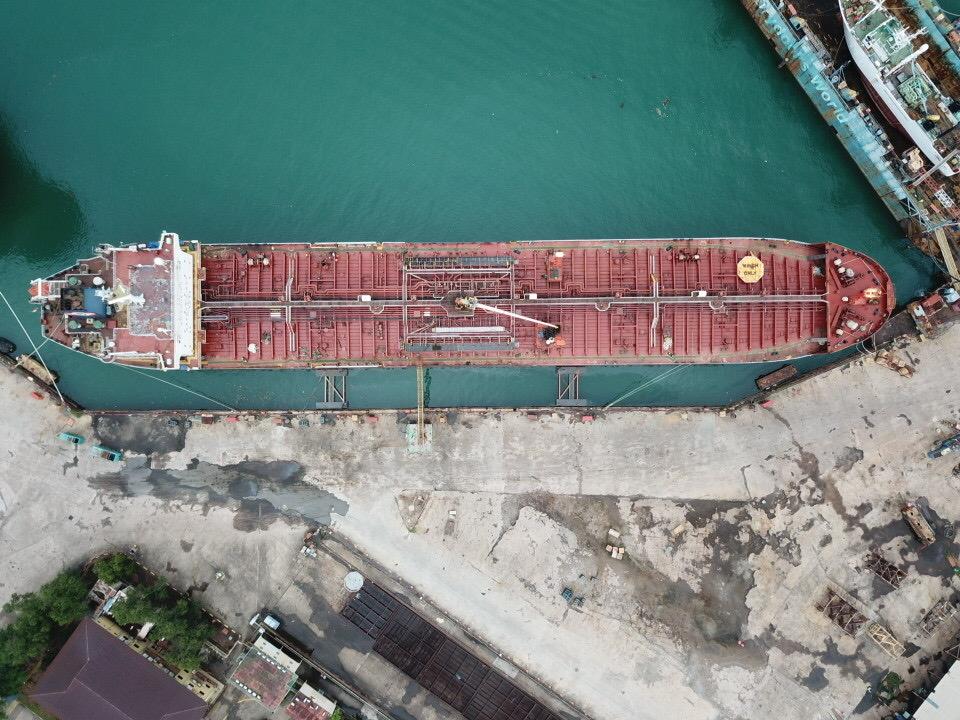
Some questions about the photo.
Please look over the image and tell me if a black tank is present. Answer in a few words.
No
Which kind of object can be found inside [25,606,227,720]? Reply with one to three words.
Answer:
building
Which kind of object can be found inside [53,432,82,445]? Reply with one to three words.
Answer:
vehicle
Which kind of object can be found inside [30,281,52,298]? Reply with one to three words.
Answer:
boat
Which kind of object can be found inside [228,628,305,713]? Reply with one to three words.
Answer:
building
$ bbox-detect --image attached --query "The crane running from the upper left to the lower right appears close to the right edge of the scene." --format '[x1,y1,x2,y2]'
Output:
[901,149,960,223]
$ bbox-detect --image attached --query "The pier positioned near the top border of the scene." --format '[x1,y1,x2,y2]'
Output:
[737,0,960,272]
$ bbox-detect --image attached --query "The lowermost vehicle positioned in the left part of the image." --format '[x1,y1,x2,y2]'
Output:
[260,614,280,632]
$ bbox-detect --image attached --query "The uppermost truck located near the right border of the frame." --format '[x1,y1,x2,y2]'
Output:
[931,433,960,459]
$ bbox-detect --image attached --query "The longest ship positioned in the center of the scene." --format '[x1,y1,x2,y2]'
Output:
[31,232,899,370]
